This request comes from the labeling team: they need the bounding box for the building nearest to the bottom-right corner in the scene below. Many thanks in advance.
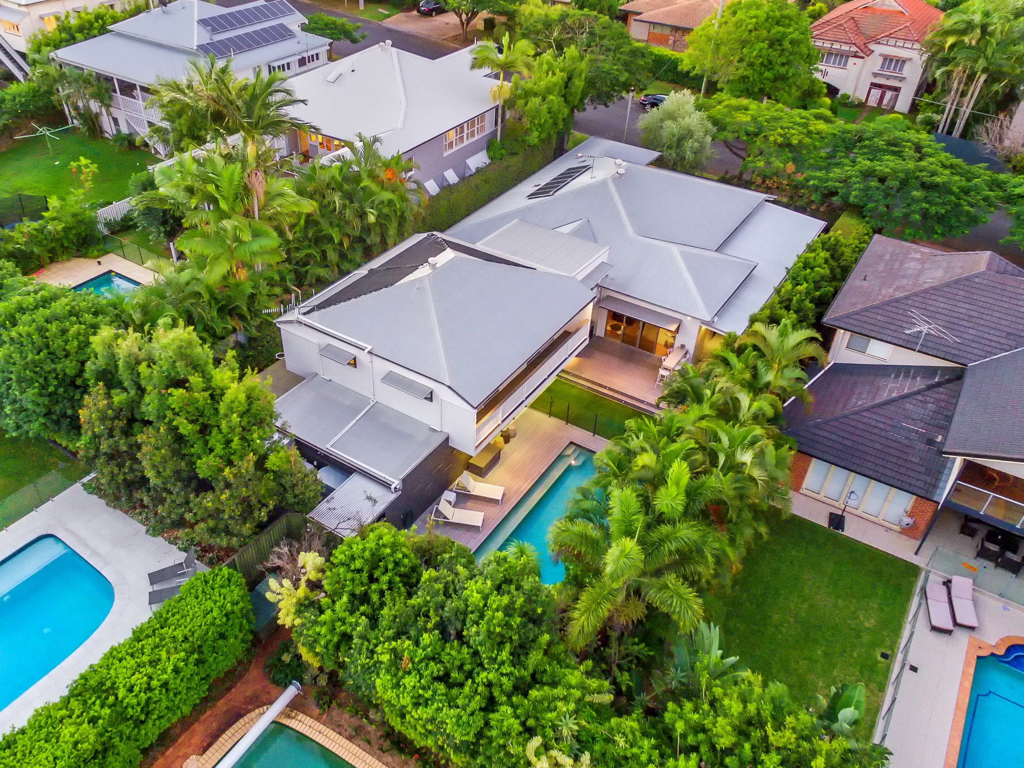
[772,221,1024,555]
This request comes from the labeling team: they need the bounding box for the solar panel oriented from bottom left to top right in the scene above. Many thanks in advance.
[527,163,592,197]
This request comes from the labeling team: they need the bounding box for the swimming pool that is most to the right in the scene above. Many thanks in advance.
[942,635,1024,768]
